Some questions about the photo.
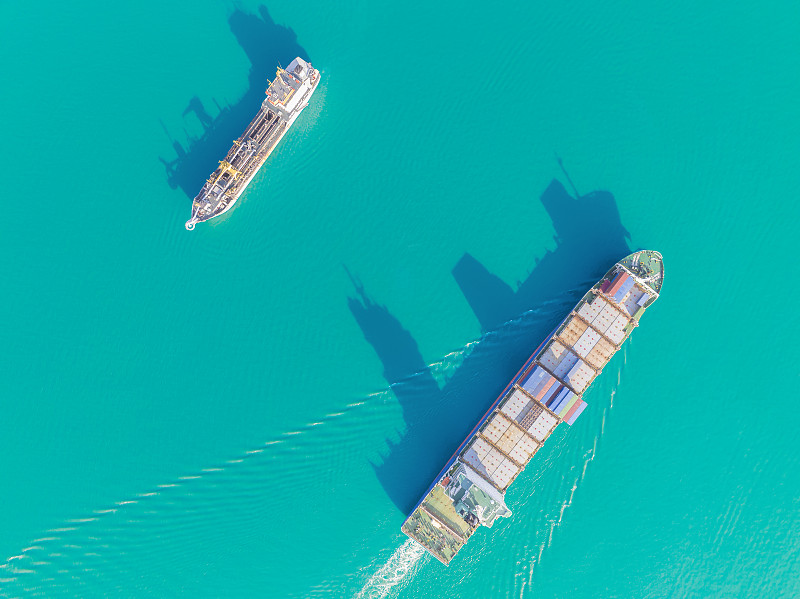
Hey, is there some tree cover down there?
No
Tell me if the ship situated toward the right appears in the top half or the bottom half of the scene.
bottom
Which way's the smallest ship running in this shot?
diagonally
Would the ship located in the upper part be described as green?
No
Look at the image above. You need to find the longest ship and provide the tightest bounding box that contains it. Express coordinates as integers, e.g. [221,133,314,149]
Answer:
[401,250,665,565]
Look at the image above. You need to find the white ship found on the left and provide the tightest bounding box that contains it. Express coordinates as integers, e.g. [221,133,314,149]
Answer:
[187,55,322,229]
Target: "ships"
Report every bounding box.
[401,250,665,565]
[187,55,322,229]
